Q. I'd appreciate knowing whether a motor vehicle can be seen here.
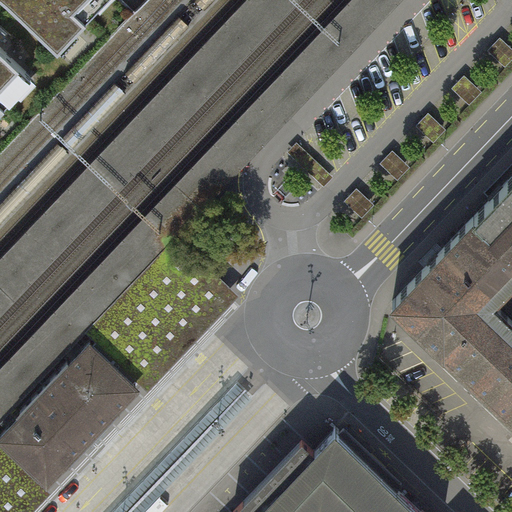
Yes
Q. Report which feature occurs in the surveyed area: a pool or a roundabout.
roundabout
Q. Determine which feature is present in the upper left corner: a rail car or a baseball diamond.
rail car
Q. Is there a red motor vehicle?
Yes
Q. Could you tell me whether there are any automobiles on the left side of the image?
Yes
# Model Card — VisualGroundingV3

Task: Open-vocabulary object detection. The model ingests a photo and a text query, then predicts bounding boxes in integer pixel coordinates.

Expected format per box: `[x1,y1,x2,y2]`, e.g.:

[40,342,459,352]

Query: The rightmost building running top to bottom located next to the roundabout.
[389,164,512,432]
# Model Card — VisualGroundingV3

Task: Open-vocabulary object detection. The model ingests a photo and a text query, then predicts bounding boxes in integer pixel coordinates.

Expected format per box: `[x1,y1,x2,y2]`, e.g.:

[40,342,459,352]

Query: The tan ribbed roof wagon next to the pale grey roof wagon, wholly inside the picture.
[125,17,191,86]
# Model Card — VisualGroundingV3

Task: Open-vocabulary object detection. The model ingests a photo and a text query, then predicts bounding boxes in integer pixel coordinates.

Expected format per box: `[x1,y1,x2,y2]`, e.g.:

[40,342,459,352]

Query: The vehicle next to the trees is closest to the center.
[236,266,259,290]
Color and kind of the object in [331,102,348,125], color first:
white car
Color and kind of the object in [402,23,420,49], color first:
white vehicle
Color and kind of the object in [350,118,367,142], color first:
white car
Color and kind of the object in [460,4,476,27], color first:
red car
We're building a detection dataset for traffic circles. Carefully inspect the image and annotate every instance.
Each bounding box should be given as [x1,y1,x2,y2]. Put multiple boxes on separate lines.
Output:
[244,253,376,398]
